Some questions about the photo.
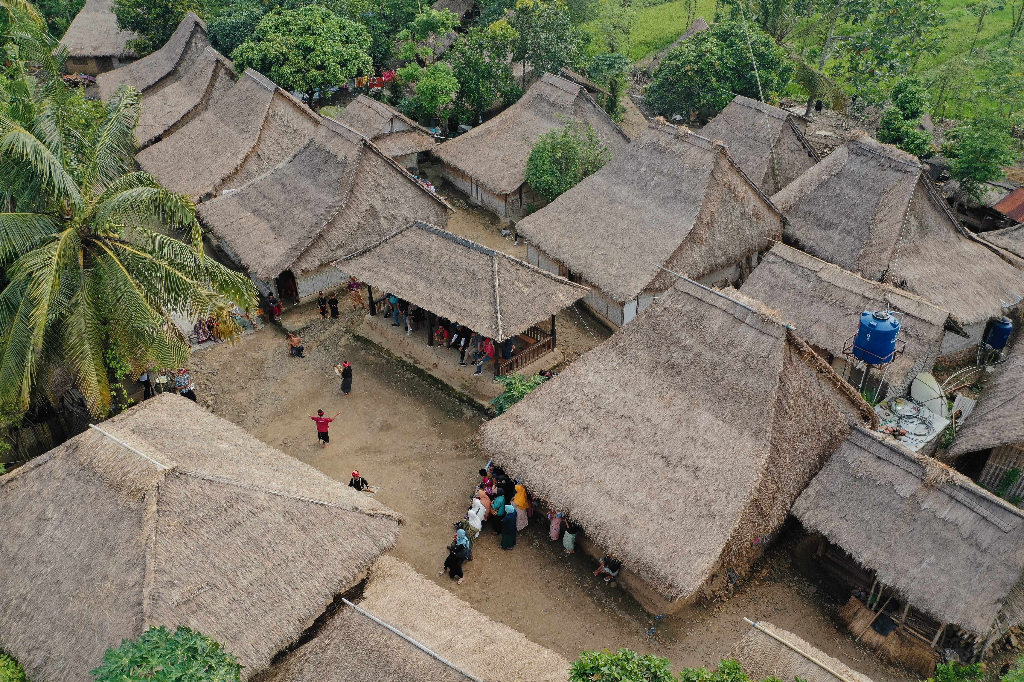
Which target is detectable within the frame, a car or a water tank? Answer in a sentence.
This aerial view contains a water tank.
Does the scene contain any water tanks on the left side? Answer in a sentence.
No, there's no water tank to be seen on the left side.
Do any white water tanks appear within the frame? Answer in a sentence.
No, there isn't any white water tank down there.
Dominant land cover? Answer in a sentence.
What you mostly see from above here is buildings.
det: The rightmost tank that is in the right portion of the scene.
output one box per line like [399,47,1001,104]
[972,324,1016,389]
